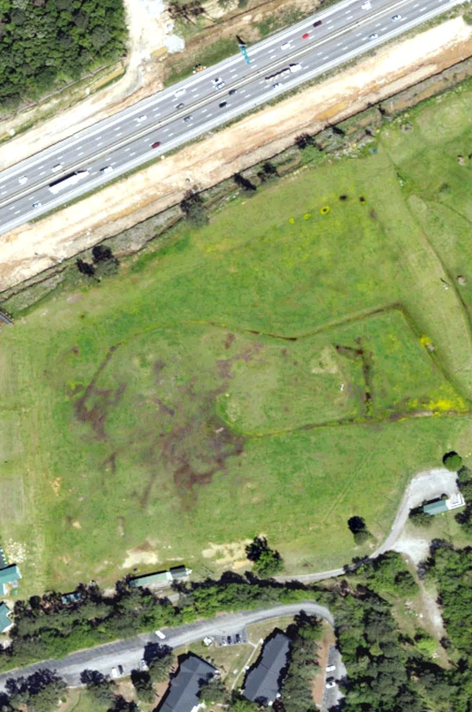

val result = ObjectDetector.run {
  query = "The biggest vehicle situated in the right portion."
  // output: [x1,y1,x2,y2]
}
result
[269,65,299,83]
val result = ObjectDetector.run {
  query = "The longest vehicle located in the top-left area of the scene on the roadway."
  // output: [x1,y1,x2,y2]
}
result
[53,171,90,192]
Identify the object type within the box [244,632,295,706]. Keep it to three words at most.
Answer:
building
